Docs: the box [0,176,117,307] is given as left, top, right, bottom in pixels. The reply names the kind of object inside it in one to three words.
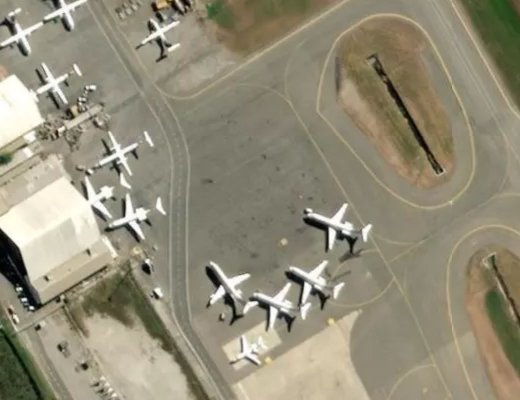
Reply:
hangar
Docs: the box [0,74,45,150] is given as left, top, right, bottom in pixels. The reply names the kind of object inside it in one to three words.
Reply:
hangar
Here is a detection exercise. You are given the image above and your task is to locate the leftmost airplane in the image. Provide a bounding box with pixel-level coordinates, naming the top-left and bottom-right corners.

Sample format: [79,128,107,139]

[0,9,46,54]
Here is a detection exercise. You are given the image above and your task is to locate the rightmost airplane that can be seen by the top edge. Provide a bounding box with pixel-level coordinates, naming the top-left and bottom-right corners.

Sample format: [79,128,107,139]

[142,19,180,51]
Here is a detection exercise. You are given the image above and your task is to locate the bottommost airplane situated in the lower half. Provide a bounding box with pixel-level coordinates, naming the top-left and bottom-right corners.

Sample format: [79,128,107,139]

[236,336,269,364]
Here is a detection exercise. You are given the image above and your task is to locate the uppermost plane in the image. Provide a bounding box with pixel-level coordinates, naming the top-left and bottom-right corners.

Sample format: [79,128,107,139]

[43,0,88,30]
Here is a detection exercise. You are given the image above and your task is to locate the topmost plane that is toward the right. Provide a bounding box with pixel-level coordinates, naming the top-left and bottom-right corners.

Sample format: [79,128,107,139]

[306,203,374,250]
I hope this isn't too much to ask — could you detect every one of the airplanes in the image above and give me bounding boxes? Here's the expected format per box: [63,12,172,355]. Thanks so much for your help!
[37,62,83,102]
[100,131,153,174]
[253,281,314,331]
[236,336,269,364]
[89,173,133,214]
[210,263,261,315]
[109,194,167,239]
[0,9,46,54]
[289,259,346,307]
[43,0,88,30]
[142,19,180,51]
[306,203,374,250]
